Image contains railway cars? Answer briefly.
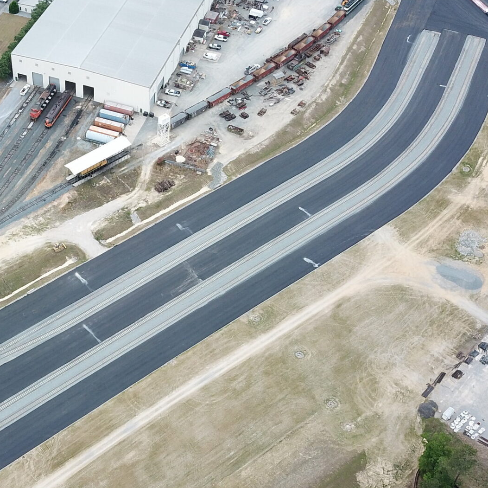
Yes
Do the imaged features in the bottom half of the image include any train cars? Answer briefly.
No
